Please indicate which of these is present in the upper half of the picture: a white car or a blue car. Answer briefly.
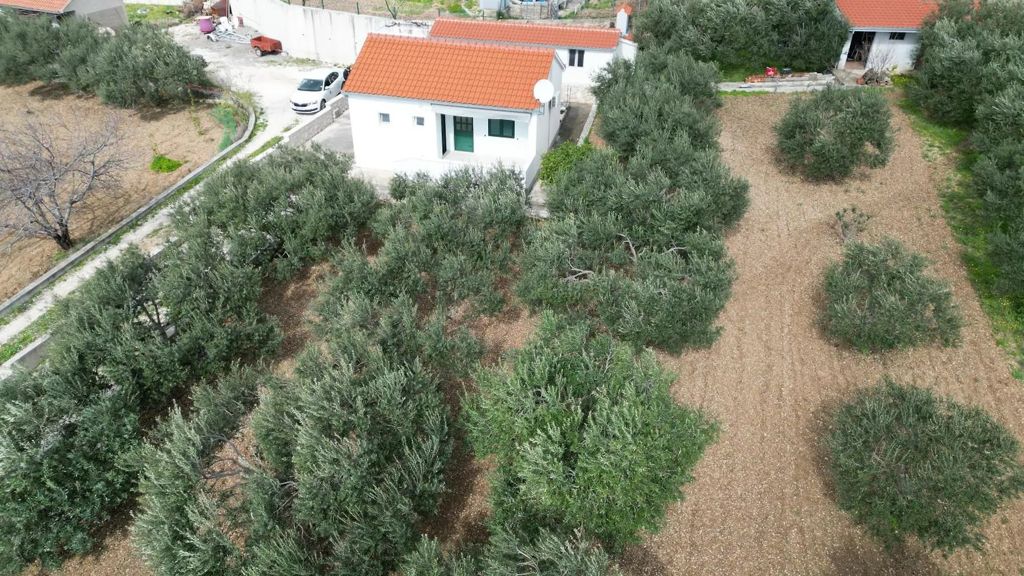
white car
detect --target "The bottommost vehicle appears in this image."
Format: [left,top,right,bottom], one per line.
[290,72,341,107]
